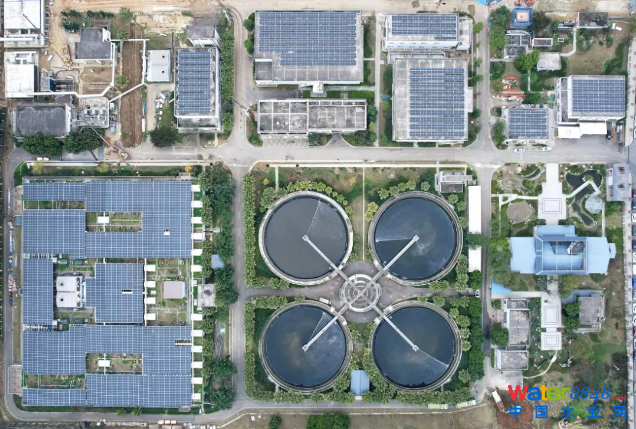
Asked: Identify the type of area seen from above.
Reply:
industrial area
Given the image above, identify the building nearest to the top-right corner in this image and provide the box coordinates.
[575,12,608,30]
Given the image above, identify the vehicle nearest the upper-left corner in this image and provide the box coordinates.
[52,42,73,66]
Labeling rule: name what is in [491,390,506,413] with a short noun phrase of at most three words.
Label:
vehicle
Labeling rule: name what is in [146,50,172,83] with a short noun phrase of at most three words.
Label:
shed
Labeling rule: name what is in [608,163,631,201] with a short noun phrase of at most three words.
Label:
building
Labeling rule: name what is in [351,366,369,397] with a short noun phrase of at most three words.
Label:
shed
